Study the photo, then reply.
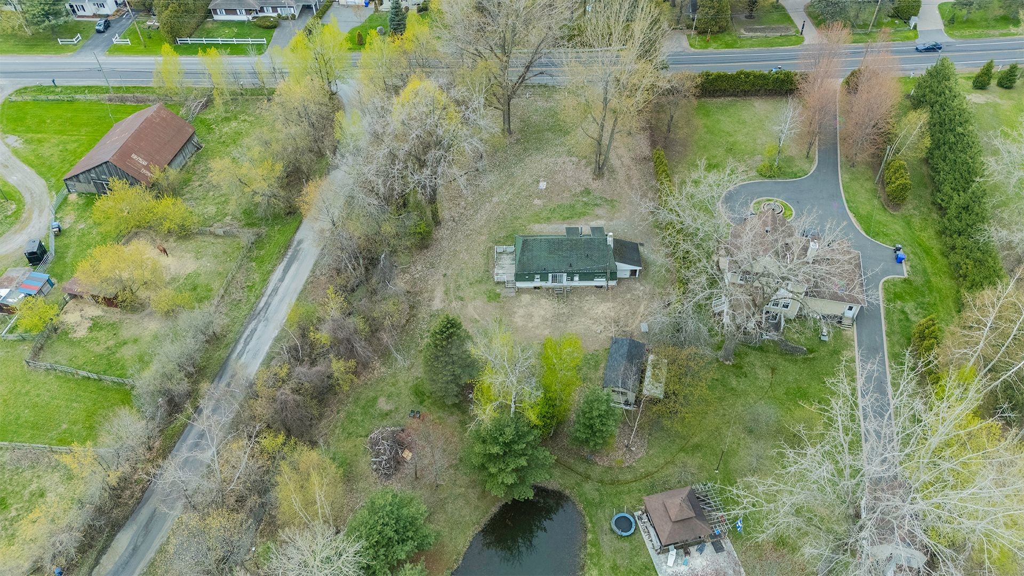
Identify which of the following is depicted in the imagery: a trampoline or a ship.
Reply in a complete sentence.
The image shows a trampoline.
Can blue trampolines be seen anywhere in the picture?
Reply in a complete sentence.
Yes, the picture does show a blue trampoline.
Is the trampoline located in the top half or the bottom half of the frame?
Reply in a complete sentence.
The bottom half of the photo is where the trampoline is.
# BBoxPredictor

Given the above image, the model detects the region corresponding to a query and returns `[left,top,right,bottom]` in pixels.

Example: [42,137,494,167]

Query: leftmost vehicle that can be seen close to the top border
[89,18,115,34]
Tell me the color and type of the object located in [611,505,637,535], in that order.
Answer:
blue trampoline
